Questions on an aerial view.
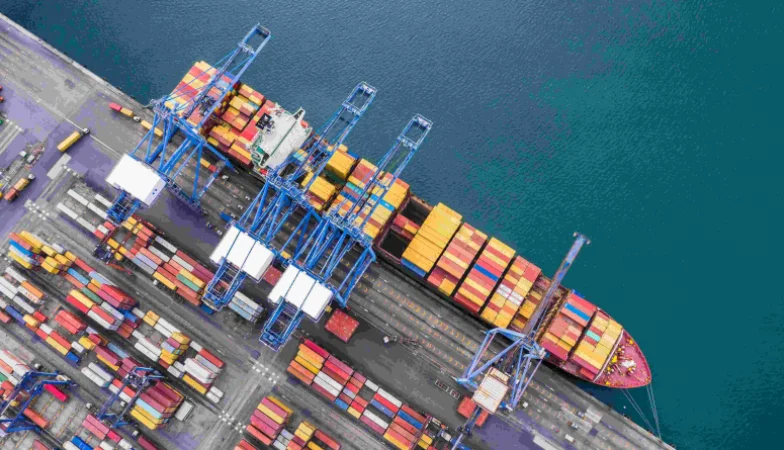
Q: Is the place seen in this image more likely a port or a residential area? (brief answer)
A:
port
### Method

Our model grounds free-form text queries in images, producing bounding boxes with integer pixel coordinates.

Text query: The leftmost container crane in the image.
[0,364,79,446]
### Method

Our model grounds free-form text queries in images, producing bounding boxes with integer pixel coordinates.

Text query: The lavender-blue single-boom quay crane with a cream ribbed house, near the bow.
[447,231,594,450]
